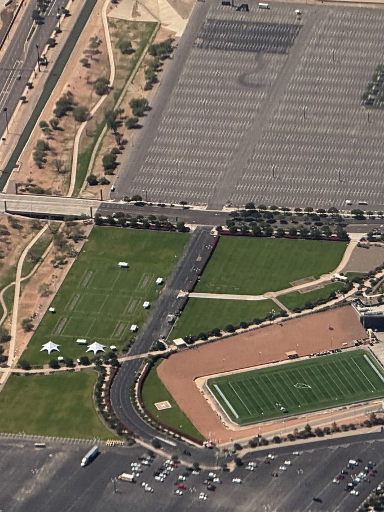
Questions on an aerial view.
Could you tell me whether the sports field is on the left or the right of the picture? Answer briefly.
right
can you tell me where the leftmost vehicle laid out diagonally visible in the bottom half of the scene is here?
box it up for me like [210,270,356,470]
[78,449,99,465]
